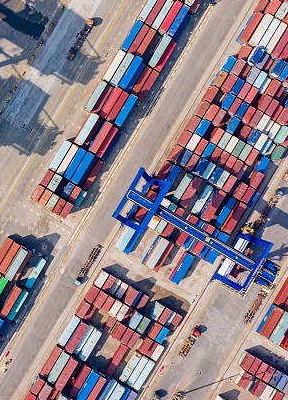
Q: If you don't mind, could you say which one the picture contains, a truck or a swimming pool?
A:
truck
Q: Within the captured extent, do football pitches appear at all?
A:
No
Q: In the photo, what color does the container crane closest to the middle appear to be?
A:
blue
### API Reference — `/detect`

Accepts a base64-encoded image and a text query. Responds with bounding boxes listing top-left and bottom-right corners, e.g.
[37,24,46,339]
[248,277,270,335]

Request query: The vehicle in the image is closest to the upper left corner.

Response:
[69,15,96,55]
